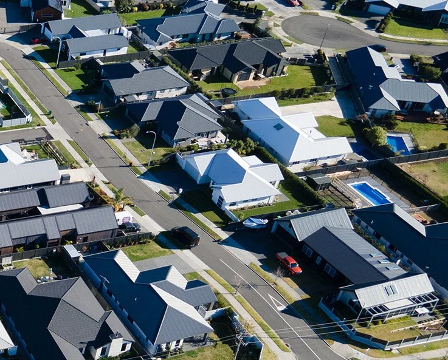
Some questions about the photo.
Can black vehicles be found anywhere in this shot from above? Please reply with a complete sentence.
Yes, a black vehicle can be made out from above.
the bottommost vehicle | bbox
[272,252,306,278]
